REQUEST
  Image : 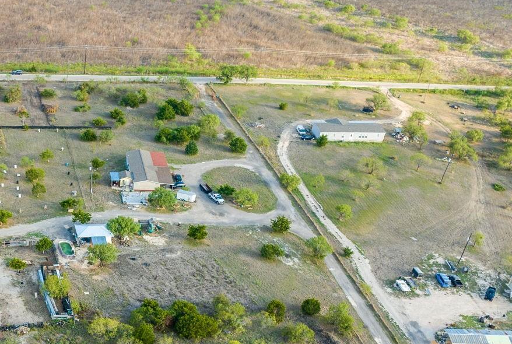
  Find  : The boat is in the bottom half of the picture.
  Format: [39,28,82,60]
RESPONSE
[392,278,413,292]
